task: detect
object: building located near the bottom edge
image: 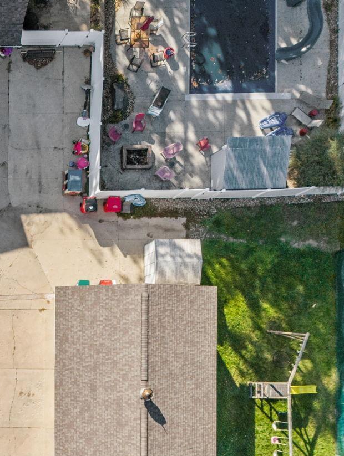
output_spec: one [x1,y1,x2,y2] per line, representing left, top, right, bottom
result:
[53,283,216,456]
